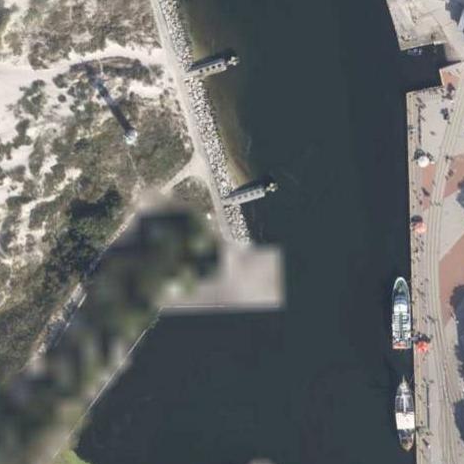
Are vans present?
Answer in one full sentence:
No, this view has no van in it.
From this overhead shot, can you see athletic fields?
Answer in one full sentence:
No, this view has no athletic field in it.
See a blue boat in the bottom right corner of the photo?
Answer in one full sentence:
No, there's no blue boat to be seen in the bottom right corner of the photo.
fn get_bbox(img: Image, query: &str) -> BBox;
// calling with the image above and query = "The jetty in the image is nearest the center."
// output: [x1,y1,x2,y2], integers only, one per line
[223,188,267,208]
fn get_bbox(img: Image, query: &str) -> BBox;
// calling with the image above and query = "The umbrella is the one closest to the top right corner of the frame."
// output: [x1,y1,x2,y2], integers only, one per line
[416,154,431,169]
